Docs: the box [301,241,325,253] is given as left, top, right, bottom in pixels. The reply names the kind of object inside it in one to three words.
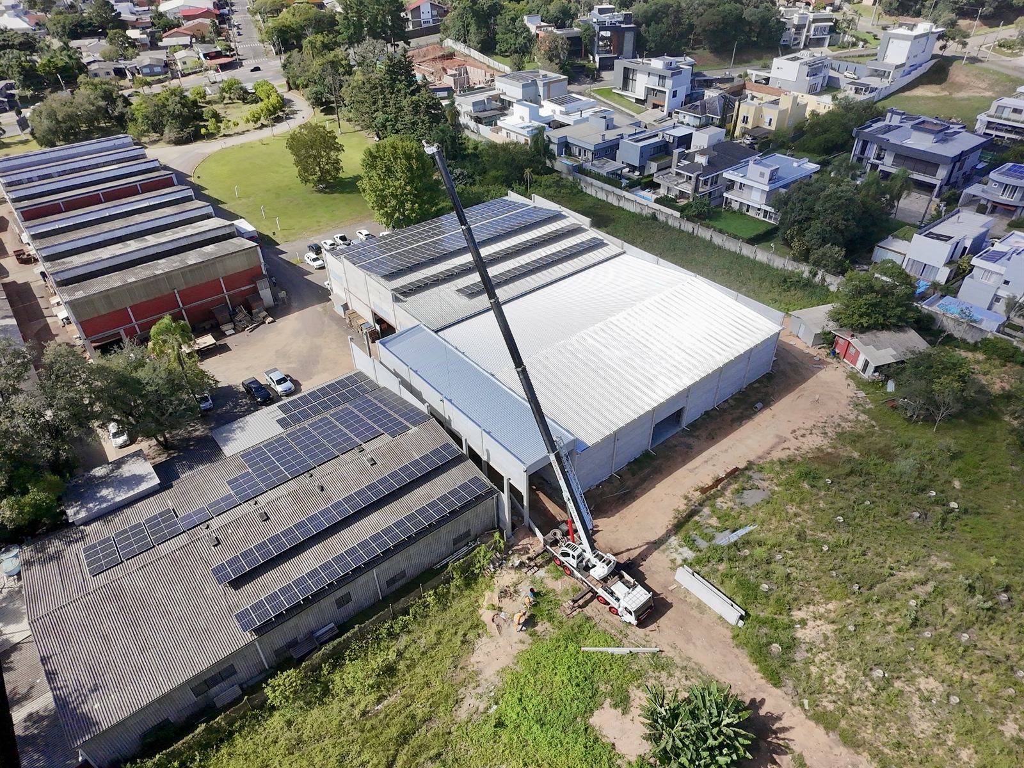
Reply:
vehicle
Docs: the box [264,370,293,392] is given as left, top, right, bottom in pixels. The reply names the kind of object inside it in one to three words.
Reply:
truck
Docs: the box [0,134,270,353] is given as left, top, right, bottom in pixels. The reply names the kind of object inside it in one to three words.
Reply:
building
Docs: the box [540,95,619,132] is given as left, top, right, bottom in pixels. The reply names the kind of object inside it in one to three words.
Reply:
house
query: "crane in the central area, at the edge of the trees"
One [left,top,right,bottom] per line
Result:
[414,142,653,630]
